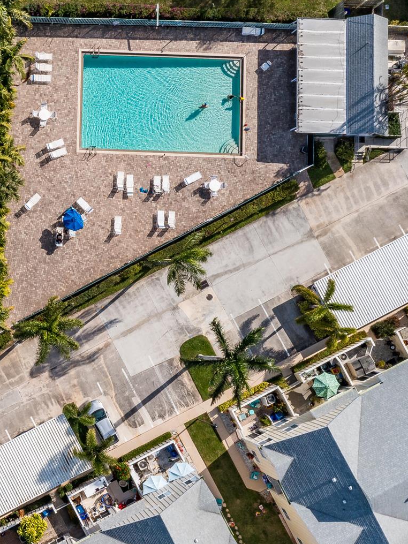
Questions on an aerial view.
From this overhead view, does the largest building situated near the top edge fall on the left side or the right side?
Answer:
right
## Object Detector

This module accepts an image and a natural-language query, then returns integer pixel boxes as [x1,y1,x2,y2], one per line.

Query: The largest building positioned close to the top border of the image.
[288,15,388,137]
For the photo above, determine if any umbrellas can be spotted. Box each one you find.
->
[141,469,167,494]
[62,207,86,230]
[319,371,347,399]
[168,458,193,482]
